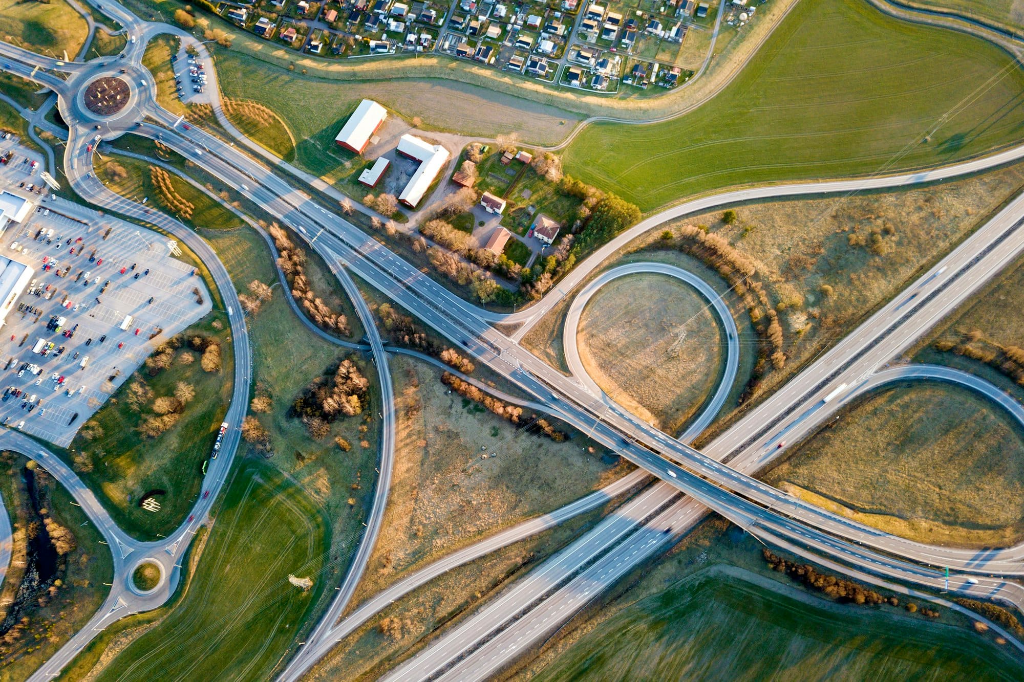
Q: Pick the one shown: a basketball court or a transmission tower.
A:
transmission tower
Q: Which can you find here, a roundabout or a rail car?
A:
roundabout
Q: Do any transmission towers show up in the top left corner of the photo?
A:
No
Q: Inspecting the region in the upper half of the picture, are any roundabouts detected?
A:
Yes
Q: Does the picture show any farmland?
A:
Yes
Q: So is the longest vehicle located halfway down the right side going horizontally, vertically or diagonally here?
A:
diagonally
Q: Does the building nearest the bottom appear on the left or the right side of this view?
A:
left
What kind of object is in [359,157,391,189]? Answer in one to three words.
shed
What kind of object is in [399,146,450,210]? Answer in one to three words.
barn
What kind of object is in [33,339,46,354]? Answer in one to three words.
vehicle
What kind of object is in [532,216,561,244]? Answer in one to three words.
house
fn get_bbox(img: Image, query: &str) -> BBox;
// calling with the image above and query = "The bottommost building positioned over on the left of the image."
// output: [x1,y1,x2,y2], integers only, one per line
[0,254,35,326]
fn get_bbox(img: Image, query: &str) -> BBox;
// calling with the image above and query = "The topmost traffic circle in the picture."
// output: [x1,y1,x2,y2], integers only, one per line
[59,40,155,152]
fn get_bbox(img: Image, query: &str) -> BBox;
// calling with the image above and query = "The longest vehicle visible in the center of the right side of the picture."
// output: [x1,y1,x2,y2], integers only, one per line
[821,383,846,403]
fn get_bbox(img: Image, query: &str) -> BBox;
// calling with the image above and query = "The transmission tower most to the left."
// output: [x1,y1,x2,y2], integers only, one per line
[289,569,313,594]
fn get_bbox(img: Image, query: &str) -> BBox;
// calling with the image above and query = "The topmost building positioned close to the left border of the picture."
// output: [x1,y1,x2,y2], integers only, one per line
[0,189,34,242]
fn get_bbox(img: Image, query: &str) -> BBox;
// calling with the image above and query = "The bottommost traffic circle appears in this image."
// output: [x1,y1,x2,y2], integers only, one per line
[92,520,195,630]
